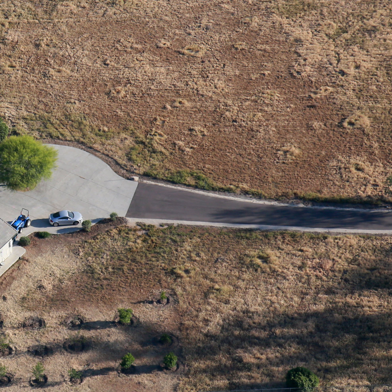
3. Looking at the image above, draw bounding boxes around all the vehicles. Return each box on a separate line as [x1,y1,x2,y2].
[48,208,83,226]
[11,206,31,238]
